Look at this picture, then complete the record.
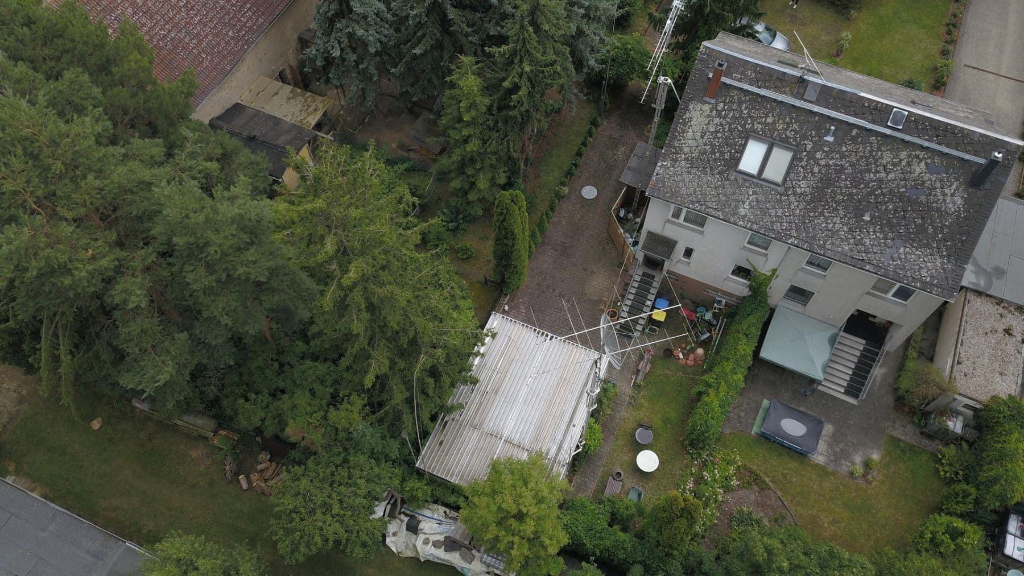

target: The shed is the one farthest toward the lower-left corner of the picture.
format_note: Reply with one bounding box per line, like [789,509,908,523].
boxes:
[0,478,180,576]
